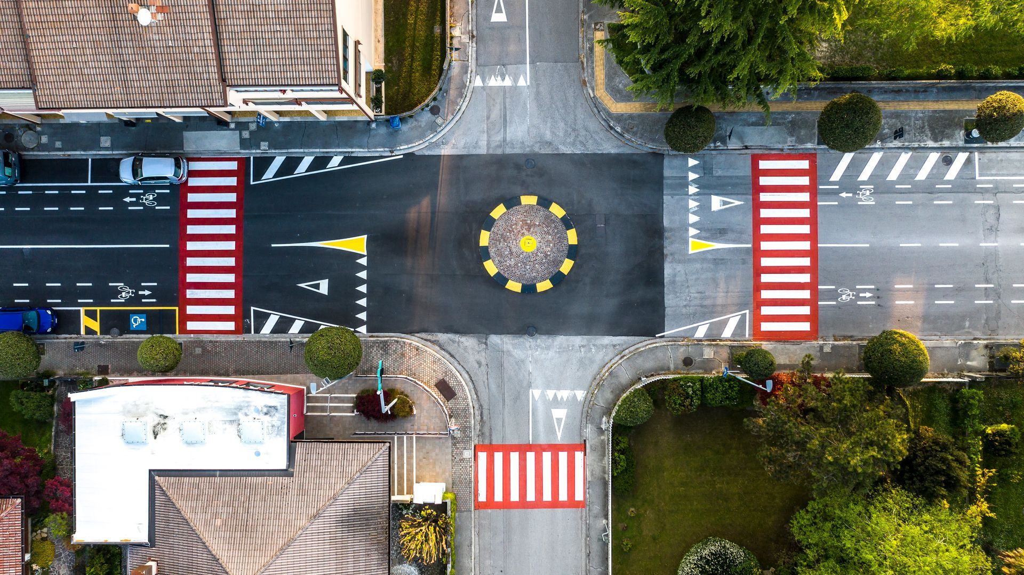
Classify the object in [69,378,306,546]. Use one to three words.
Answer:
building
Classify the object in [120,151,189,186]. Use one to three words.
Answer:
car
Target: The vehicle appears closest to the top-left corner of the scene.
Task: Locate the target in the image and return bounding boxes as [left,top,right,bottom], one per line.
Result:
[0,151,28,184]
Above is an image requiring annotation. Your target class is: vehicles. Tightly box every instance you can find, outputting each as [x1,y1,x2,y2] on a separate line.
[0,304,60,335]
[0,151,28,184]
[120,151,189,186]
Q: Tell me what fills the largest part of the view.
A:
paved ground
